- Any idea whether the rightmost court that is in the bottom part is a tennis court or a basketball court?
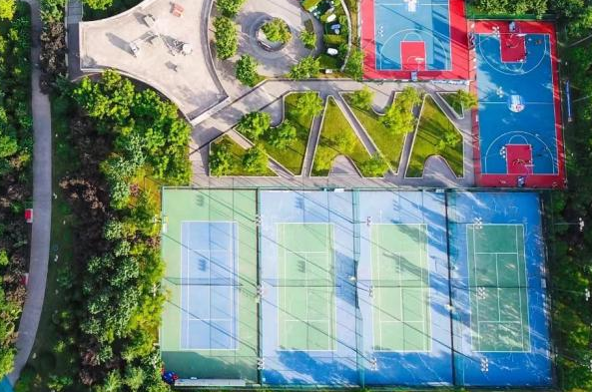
tennis court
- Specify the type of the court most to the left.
tennis court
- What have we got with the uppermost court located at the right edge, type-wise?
basketball court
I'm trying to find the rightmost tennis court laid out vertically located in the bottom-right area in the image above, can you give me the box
[450,193,552,387]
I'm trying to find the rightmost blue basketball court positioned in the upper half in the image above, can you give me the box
[471,21,568,189]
